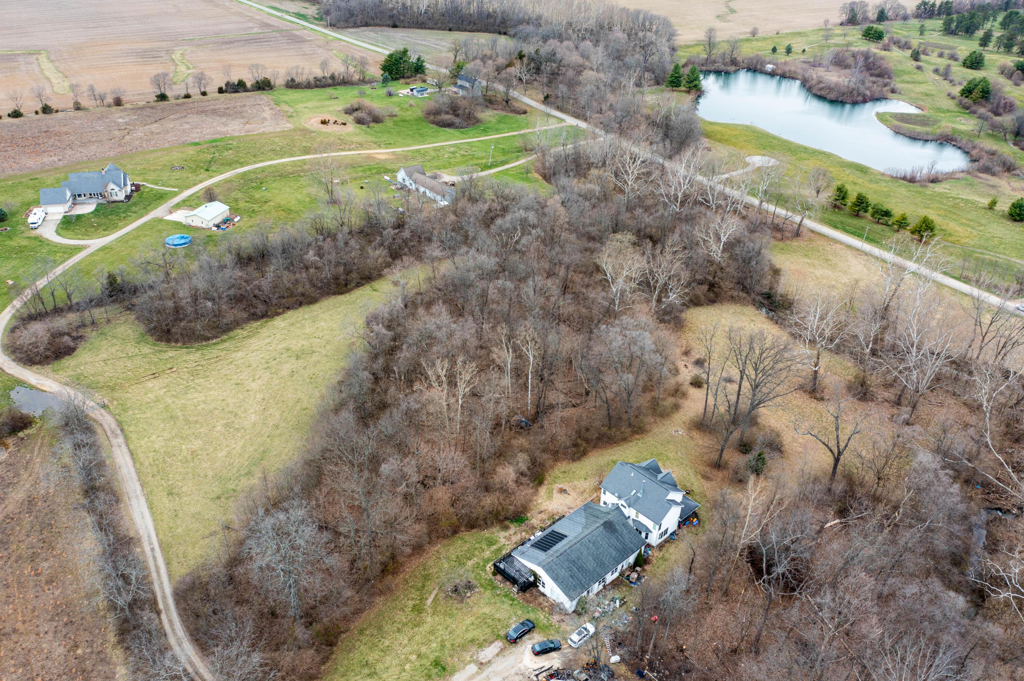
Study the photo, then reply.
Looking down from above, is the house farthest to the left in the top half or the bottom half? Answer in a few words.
top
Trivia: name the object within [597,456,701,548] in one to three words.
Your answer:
house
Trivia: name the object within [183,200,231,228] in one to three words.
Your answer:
barn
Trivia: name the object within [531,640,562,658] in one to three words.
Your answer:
car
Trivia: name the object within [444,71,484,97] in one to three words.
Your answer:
house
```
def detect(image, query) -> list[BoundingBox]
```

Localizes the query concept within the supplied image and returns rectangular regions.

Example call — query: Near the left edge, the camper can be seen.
[30,207,46,226]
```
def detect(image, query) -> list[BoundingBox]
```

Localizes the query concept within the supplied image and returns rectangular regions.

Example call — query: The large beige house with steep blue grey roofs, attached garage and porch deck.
[39,162,132,212]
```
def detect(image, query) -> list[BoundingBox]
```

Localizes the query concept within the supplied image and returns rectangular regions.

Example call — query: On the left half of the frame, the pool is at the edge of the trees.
[162,232,195,249]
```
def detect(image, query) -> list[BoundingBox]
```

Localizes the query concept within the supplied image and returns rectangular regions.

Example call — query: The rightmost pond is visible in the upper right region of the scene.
[696,69,969,174]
